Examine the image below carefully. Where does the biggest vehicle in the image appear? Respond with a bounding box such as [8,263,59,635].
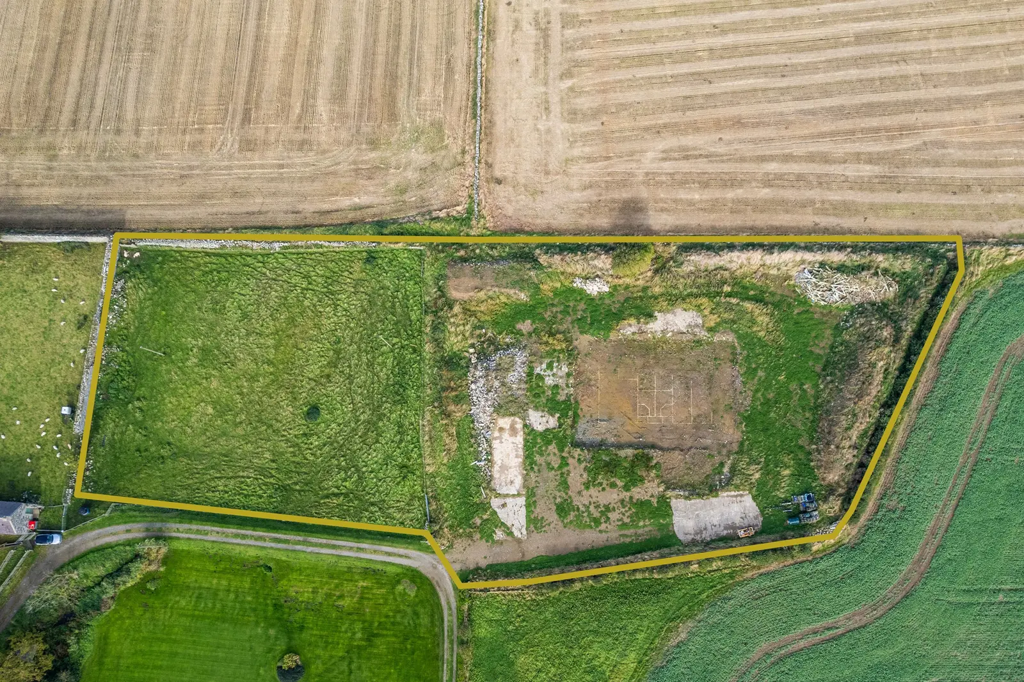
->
[34,532,62,546]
